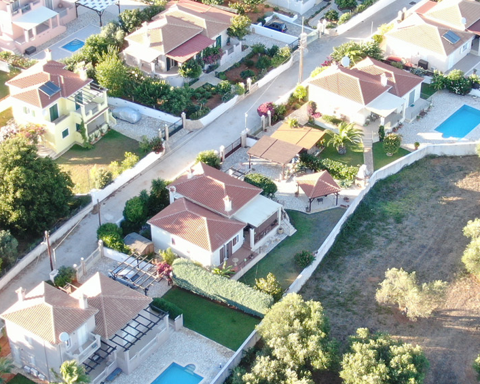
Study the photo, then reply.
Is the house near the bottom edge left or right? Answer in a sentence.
The house near the bottom edge is on the left side of the image.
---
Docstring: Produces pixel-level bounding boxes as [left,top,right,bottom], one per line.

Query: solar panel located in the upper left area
[36,79,59,95]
